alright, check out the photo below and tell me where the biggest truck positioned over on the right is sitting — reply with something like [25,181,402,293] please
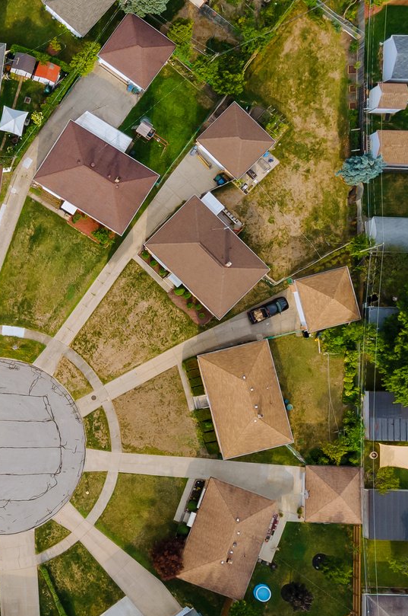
[248,296,292,324]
